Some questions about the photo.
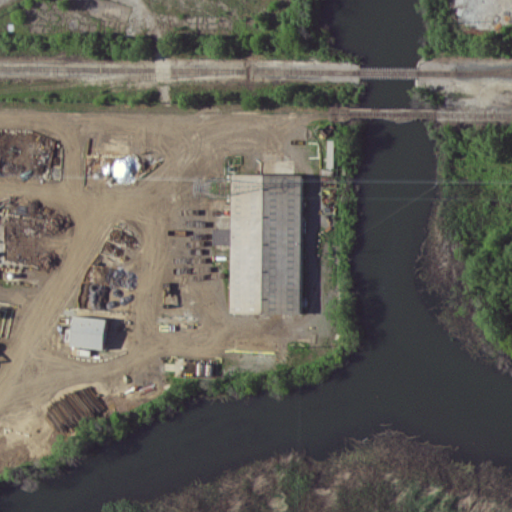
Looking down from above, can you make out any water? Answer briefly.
Yes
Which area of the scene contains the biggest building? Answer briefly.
center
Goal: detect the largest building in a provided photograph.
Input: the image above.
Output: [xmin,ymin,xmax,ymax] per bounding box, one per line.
[212,175,304,315]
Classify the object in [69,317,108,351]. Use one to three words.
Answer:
shed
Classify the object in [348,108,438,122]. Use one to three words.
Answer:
bridge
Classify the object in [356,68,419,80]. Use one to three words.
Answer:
bridge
